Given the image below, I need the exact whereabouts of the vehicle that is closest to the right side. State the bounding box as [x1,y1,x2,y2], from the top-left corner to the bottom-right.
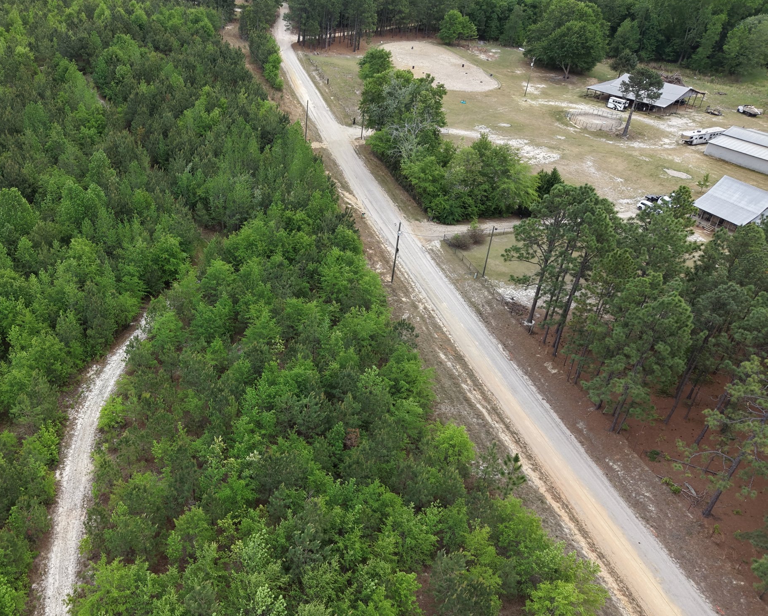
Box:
[733,103,763,116]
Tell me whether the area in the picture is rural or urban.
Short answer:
rural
